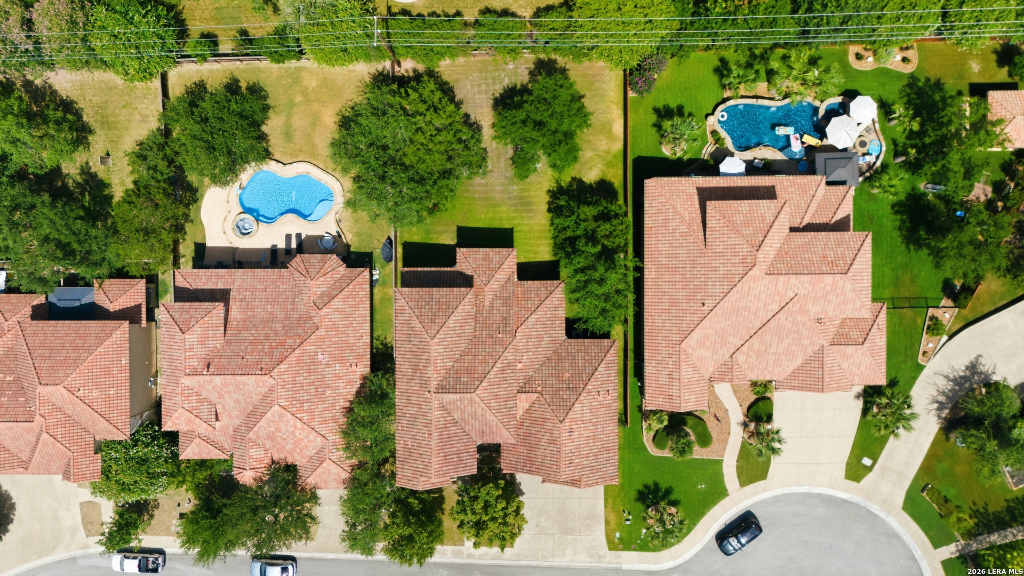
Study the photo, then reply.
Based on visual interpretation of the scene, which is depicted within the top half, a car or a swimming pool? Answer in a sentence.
There is a swimming pool within the top half.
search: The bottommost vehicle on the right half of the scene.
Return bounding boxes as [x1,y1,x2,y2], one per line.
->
[717,518,763,556]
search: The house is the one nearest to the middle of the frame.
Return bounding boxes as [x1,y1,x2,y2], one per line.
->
[394,247,619,490]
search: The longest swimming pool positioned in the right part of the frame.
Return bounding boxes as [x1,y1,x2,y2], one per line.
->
[704,96,828,163]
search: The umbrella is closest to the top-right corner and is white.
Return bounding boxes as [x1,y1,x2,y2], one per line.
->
[849,96,877,123]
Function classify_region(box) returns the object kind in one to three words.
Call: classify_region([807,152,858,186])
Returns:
gazebo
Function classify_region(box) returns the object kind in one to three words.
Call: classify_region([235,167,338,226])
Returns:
swimming pool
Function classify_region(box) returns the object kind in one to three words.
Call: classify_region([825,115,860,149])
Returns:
umbrella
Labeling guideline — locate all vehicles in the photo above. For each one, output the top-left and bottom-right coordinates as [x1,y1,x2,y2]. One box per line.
[250,558,296,576]
[717,518,763,556]
[111,552,166,576]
